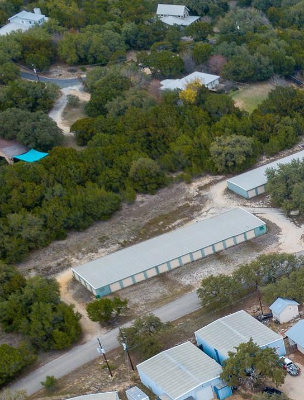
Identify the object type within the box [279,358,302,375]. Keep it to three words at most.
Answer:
vehicle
